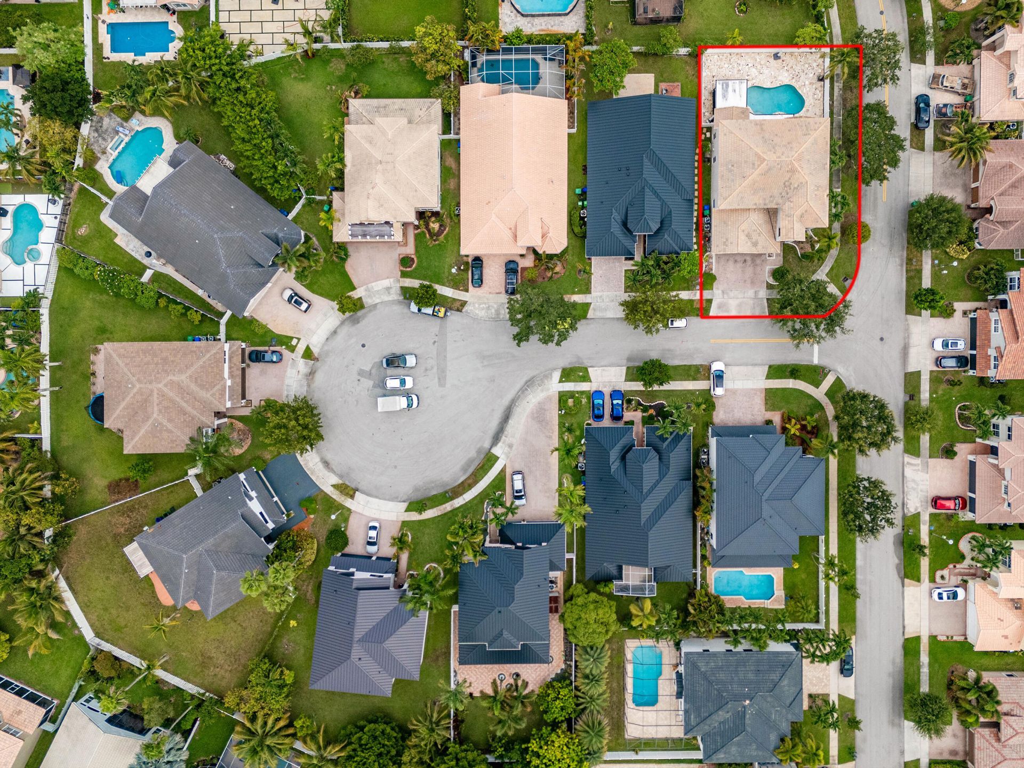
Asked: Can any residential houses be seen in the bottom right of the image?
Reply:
Yes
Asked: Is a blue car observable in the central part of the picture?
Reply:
Yes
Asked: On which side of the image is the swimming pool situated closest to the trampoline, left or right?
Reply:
left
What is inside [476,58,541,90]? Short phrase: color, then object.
blue swimming pool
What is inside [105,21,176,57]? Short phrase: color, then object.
blue swimming pool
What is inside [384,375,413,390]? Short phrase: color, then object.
white car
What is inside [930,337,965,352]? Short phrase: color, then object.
white car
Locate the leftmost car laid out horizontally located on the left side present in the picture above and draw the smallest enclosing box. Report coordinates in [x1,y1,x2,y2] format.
[250,349,281,364]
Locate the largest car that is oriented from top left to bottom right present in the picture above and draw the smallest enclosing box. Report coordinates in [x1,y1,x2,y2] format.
[281,287,312,313]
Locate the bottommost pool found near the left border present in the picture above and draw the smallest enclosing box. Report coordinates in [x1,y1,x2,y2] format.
[0,367,40,395]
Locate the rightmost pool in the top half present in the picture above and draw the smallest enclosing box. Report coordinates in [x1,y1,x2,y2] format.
[747,83,806,115]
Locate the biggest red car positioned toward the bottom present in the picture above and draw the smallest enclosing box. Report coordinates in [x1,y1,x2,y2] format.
[930,496,965,512]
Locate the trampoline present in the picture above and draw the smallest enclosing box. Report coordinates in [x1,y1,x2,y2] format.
[86,394,103,423]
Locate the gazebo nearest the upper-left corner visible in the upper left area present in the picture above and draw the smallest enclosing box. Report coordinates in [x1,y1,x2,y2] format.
[12,65,37,91]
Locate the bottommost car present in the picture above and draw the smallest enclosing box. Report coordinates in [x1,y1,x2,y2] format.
[838,646,855,677]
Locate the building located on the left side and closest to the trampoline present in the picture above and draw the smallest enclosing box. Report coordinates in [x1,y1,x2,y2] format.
[103,341,248,454]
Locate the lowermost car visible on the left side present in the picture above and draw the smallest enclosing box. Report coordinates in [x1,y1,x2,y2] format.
[364,521,380,554]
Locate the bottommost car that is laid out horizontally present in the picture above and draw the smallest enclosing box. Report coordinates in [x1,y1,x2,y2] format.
[929,586,964,602]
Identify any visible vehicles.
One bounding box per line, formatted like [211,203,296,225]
[511,471,526,504]
[609,390,625,421]
[933,354,967,370]
[928,74,975,96]
[930,337,965,352]
[913,95,931,130]
[838,646,855,677]
[504,260,520,297]
[384,375,413,390]
[709,363,726,396]
[930,102,970,119]
[376,394,420,412]
[469,257,484,288]
[364,521,380,554]
[930,496,965,512]
[929,586,964,602]
[657,317,689,330]
[281,287,312,313]
[250,349,281,364]
[591,390,605,421]
[410,301,451,320]
[383,353,416,369]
